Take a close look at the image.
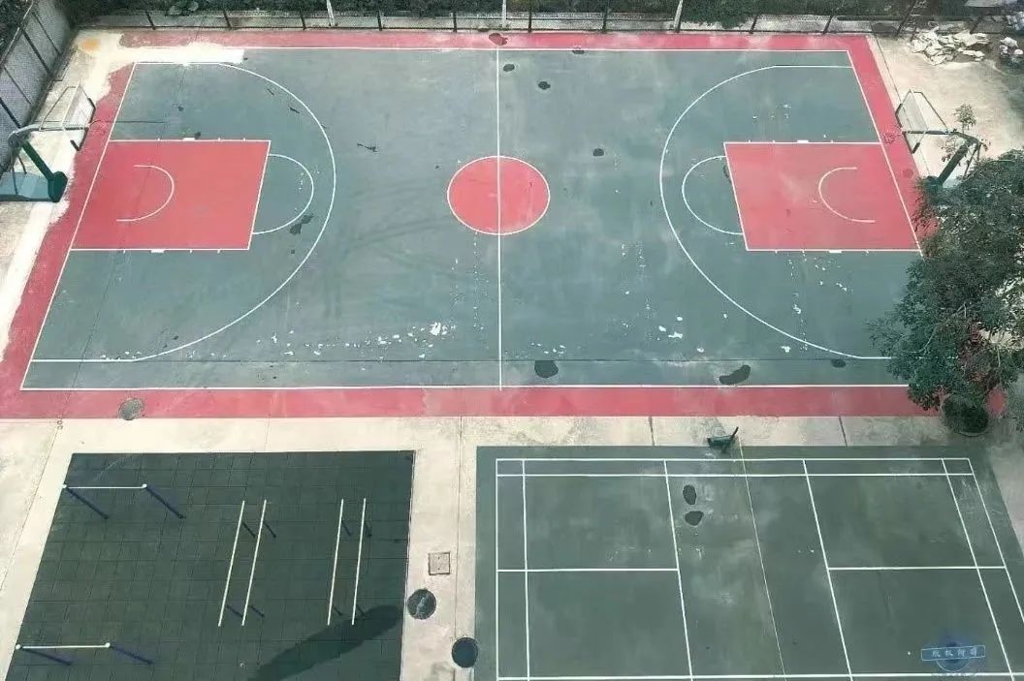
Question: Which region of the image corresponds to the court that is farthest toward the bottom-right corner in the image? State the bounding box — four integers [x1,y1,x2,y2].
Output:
[475,445,1024,681]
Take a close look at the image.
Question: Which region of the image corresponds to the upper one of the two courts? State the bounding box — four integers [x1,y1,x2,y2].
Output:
[0,32,1021,421]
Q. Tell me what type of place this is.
sports ground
